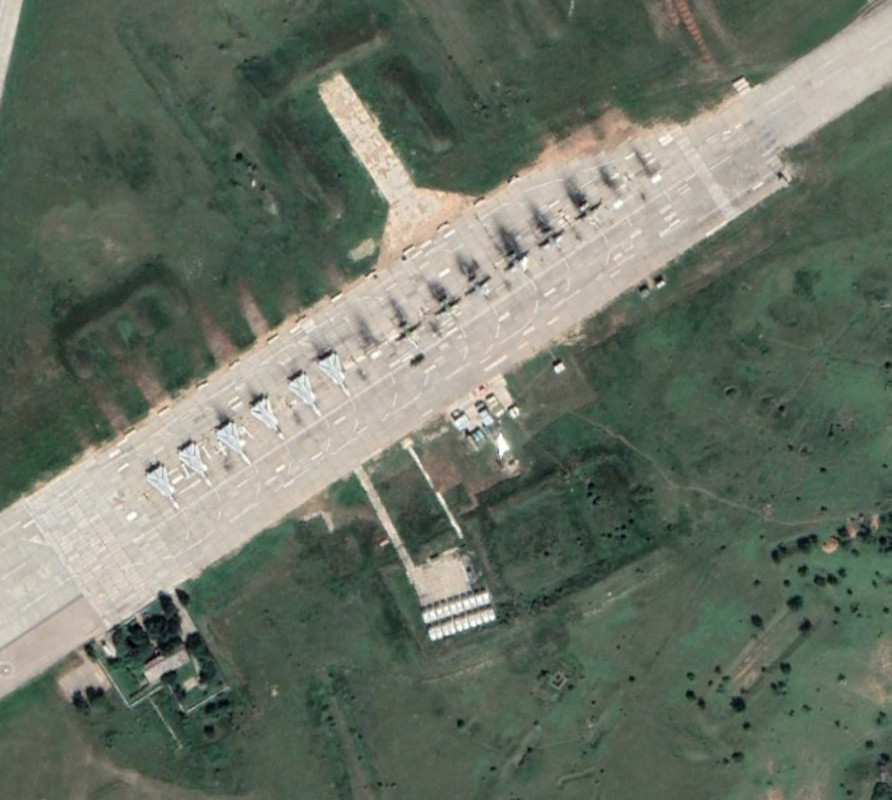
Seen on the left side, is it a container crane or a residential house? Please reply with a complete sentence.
Visible on the left side is a residential house.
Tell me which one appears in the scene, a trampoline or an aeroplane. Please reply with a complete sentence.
There is an aeroplane in the scene.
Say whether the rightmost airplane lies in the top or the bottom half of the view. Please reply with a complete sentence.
Seen from above, the rightmost airplane lies in the top half of the view.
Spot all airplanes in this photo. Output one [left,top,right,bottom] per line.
[321,352,349,396]
[504,250,530,277]
[539,227,566,254]
[465,275,491,302]
[577,199,603,227]
[146,466,177,508]
[396,322,422,349]
[436,296,462,323]
[217,424,250,464]
[179,443,210,485]
[290,374,321,417]
[252,397,284,439]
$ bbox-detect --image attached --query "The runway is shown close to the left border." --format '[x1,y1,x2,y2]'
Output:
[0,497,105,701]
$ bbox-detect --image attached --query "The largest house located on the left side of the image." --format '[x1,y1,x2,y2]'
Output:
[143,649,190,688]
